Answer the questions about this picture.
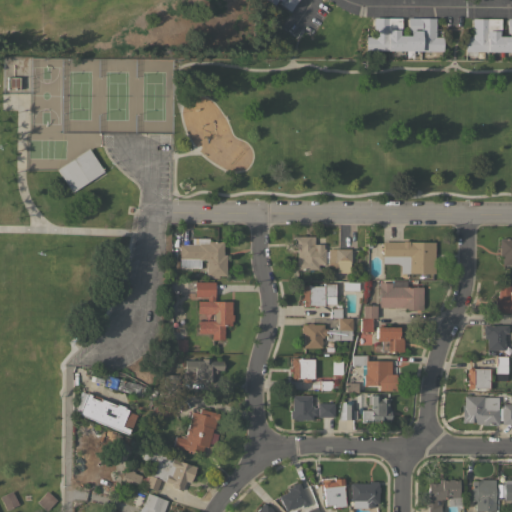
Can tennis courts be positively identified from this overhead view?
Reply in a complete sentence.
Yes, a tennis court appears in the view.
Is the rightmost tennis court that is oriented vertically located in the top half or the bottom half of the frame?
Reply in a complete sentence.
The rightmost tennis court that is oriented vertically is in the top half of the image.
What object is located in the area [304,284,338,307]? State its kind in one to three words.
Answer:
house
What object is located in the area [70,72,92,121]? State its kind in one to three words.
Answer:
tennis court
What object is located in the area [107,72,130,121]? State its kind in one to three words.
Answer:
tennis court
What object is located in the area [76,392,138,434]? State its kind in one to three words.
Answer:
building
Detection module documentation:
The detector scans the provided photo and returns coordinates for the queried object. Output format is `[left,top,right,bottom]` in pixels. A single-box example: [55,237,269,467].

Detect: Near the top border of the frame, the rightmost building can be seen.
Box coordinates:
[468,18,512,52]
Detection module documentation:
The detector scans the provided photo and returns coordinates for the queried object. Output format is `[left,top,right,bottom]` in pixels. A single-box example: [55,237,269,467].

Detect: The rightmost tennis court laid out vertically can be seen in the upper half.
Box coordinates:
[144,72,166,121]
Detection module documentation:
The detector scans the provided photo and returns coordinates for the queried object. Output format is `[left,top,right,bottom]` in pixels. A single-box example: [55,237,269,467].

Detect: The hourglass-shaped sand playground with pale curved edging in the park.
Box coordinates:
[184,99,254,171]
